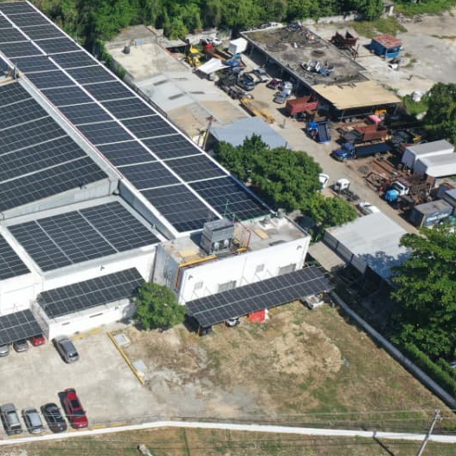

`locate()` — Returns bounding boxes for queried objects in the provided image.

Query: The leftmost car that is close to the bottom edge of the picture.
[0,402,23,435]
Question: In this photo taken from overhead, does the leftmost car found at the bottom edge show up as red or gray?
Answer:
gray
